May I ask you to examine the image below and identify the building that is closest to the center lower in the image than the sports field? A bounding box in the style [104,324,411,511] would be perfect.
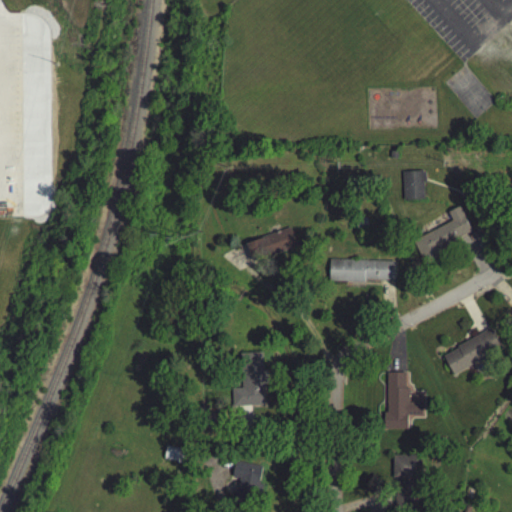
[246,228,298,260]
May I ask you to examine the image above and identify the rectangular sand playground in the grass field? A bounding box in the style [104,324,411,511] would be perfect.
[368,88,438,128]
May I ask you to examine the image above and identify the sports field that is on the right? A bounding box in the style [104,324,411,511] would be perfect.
[224,0,464,140]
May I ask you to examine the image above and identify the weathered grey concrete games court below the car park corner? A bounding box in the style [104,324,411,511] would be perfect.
[446,66,493,117]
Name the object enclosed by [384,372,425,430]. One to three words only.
house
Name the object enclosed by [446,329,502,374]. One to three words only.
house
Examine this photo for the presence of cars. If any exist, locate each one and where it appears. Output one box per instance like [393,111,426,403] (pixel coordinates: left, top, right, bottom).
[394,358,400,370]
[224,462,234,469]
